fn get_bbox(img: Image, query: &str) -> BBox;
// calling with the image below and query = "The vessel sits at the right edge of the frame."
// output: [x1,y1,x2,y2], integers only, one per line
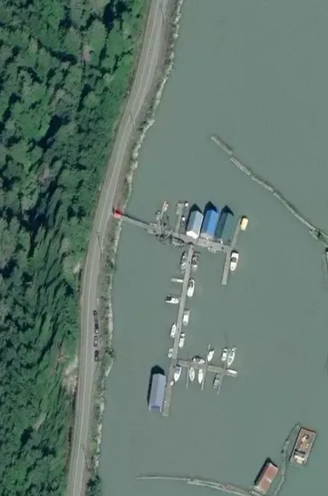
[290,429,316,466]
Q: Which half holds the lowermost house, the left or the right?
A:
right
